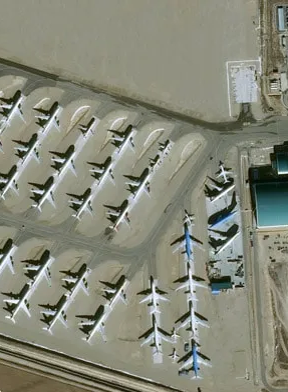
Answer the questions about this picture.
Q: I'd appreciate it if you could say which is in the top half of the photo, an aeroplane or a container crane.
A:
aeroplane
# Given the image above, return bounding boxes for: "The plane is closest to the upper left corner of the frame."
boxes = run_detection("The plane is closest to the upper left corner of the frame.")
[0,97,25,125]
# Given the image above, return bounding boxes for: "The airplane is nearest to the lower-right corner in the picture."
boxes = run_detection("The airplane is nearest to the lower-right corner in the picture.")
[179,343,211,379]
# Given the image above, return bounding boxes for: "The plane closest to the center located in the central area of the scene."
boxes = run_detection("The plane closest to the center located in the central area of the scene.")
[127,175,152,203]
